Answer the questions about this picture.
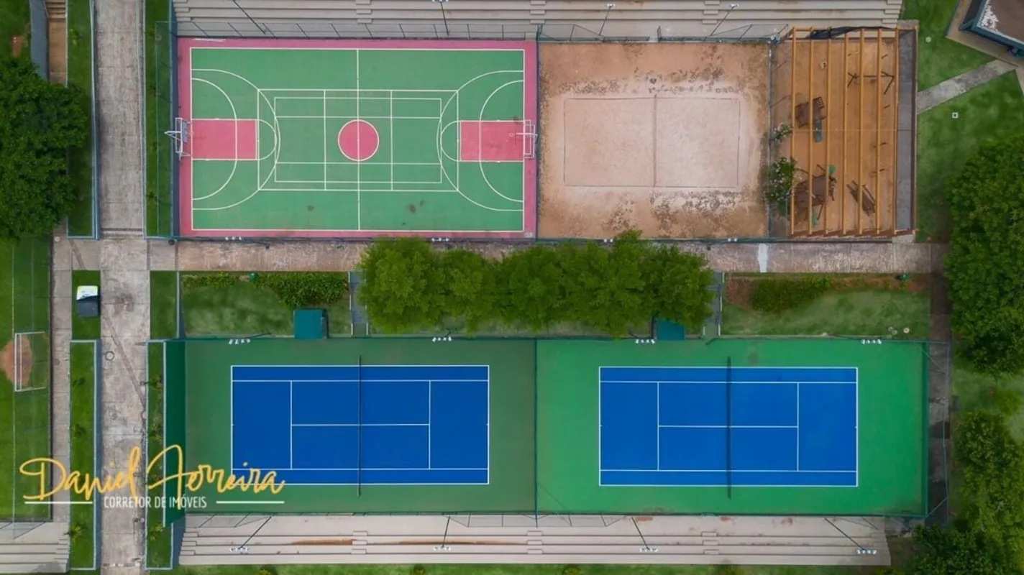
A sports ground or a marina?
sports ground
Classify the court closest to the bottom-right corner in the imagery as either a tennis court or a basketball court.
tennis court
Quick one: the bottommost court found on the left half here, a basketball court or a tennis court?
tennis court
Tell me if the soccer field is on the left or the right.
left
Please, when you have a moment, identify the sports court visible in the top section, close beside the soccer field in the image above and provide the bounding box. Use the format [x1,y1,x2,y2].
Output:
[178,38,537,237]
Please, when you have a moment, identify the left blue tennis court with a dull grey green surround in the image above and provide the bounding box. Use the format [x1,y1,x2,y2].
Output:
[185,339,536,513]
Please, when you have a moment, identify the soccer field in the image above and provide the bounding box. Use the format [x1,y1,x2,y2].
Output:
[0,233,50,520]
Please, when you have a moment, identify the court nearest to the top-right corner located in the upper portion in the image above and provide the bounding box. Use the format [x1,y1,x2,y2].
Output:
[540,41,769,238]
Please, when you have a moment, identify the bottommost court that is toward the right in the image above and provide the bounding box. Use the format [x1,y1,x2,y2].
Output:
[538,340,926,516]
